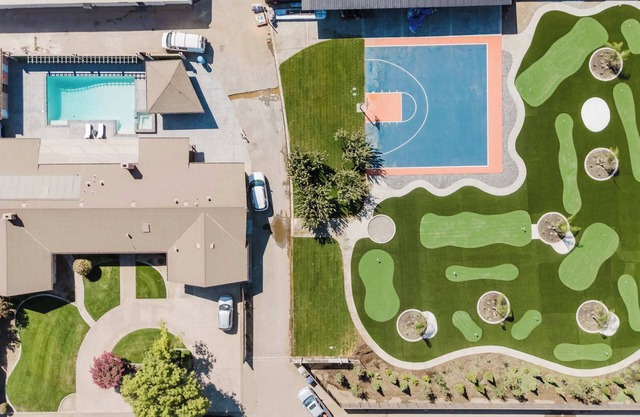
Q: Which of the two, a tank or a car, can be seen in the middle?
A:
car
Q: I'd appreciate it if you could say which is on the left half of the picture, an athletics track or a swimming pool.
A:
swimming pool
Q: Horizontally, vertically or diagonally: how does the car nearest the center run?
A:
vertically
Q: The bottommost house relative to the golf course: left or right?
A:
left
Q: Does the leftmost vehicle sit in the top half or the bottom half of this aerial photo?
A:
top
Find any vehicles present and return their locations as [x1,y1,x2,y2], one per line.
[344,9,359,19]
[216,294,234,330]
[162,31,209,54]
[248,171,269,212]
[296,387,328,417]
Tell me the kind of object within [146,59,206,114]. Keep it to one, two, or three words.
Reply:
building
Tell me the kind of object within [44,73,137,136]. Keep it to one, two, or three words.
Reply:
swimming pool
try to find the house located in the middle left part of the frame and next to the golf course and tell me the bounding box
[0,138,248,297]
